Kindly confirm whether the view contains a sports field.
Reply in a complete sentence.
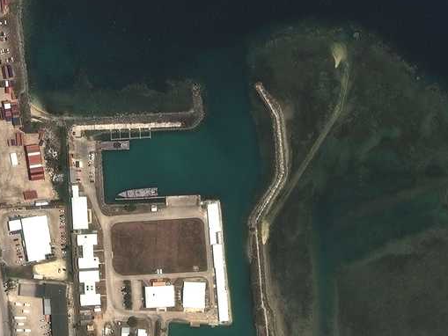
Yes, looking at the shot, I can spot a sports field.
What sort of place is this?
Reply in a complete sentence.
The picture captures a port.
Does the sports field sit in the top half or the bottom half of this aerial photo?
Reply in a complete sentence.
Seen from above, the sports field lies in the bottom half of the view.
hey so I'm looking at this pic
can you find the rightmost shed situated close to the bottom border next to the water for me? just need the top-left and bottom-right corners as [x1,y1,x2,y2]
[214,245,229,323]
